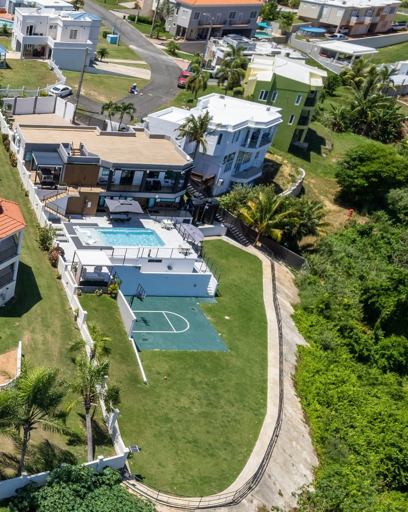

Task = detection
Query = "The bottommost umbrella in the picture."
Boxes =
[175,226,207,245]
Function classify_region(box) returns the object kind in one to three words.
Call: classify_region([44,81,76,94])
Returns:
vehicle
